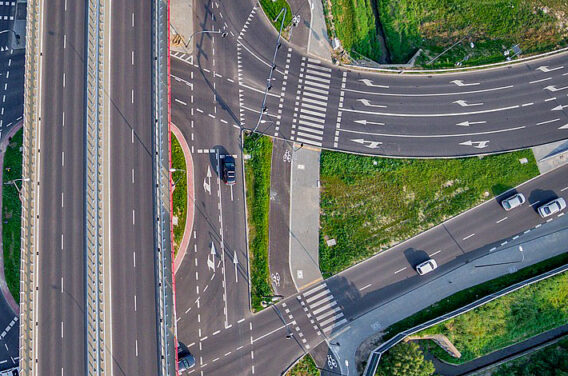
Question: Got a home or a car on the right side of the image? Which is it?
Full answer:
The feature located on the right side of the image is a car.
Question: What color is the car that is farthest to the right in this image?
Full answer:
The car that is farthest to the right looks white in the image.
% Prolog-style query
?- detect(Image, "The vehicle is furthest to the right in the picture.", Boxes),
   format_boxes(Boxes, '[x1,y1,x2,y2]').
[535,198,566,219]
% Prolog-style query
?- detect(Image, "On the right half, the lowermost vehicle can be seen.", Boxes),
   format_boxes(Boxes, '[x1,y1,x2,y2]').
[413,258,438,277]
